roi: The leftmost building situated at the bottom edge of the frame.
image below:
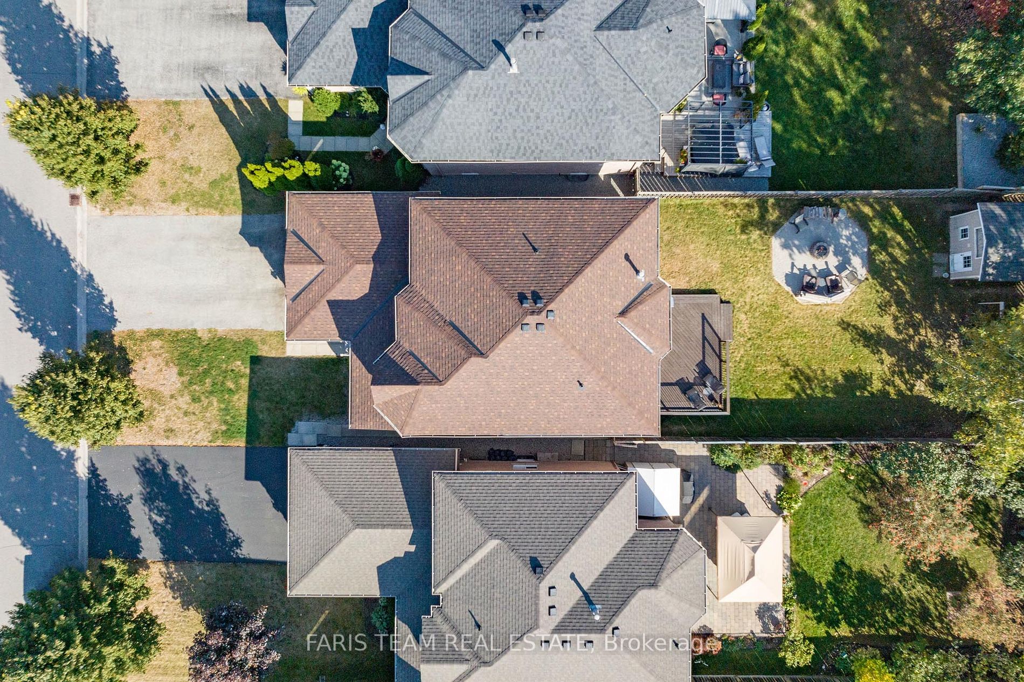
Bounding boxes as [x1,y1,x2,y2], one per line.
[285,447,707,682]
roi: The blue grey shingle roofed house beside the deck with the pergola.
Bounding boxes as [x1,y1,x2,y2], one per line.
[285,0,707,191]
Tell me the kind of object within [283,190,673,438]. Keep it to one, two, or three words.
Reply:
house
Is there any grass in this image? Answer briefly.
Yes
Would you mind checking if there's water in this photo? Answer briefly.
No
